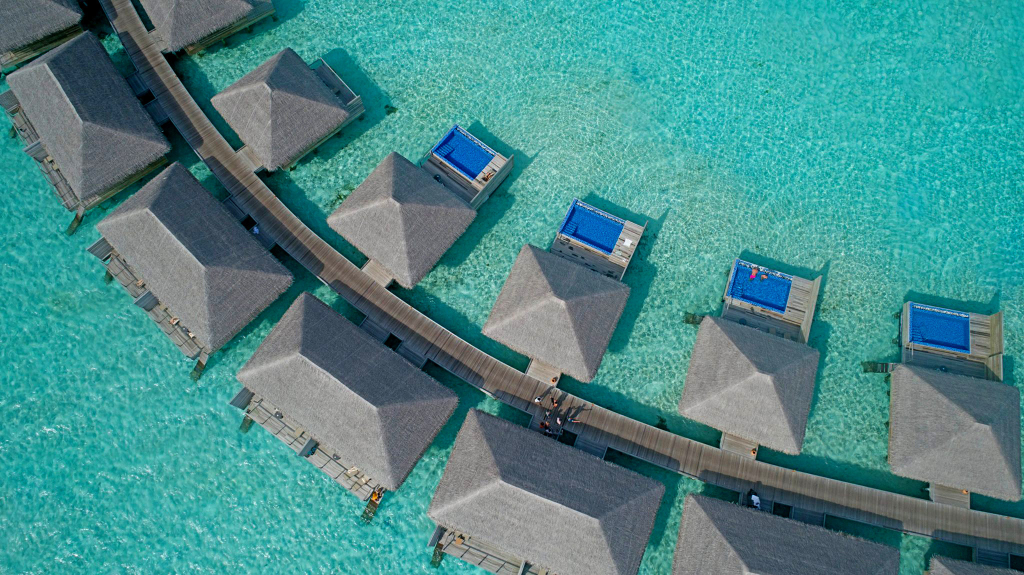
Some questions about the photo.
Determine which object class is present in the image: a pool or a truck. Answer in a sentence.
The one in the frame is a pool.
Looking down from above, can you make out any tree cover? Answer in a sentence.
No, tree cover can't be seen anywhere here.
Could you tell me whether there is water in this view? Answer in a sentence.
Yes, there is water in the image.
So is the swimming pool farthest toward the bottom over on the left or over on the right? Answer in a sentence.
The swimming pool farthest toward the bottom is on the right side of the image.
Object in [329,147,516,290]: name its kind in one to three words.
house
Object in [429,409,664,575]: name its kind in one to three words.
house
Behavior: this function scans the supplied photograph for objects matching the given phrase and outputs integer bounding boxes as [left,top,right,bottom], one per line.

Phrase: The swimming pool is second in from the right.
[724,260,795,316]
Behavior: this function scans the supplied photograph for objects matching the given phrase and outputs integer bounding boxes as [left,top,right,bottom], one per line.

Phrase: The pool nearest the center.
[557,199,625,255]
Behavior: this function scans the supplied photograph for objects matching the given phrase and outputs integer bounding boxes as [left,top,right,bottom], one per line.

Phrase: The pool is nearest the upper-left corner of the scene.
[432,125,500,183]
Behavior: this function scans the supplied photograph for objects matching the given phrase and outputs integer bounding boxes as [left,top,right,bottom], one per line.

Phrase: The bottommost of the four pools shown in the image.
[902,300,971,354]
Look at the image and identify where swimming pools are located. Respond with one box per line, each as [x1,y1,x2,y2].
[557,199,625,255]
[432,125,500,183]
[902,300,971,354]
[724,260,795,316]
